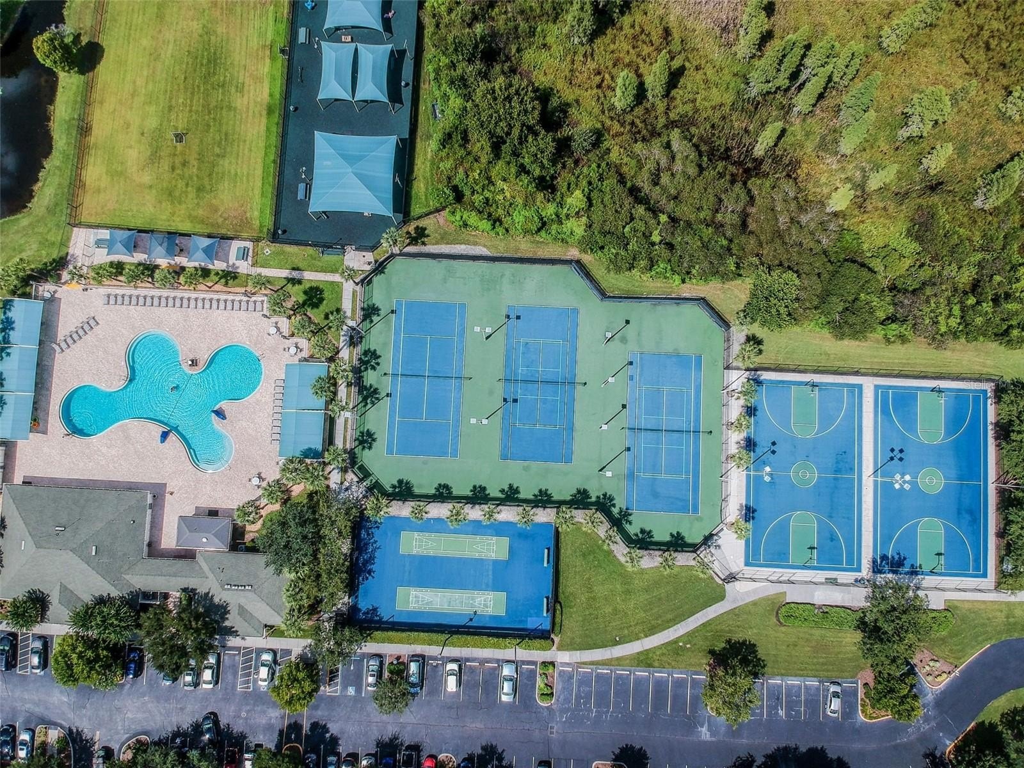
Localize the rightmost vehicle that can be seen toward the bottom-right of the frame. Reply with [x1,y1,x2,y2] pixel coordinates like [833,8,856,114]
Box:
[825,680,842,717]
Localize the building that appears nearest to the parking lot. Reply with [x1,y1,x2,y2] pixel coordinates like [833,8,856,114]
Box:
[0,484,286,637]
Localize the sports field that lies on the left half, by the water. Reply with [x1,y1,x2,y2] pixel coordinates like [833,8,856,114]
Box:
[73,0,286,238]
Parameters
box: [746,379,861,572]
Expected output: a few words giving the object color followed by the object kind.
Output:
blue basketball court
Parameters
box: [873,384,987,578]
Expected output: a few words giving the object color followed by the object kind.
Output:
blue basketball court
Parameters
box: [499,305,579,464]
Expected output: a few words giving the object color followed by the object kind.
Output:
blue tennis court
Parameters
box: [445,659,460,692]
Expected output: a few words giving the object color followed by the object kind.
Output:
white car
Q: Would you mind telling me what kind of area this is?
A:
sports ground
